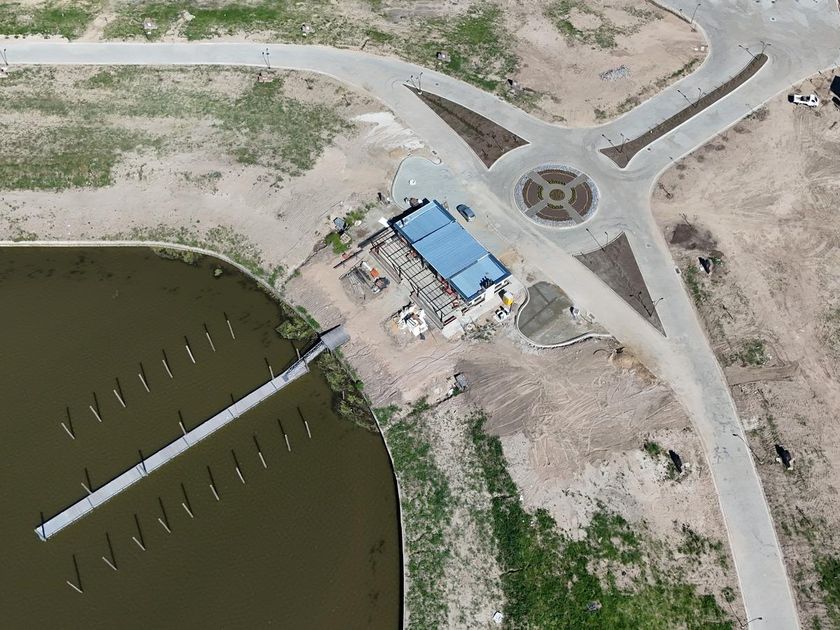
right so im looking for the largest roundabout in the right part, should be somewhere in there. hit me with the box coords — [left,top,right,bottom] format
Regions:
[514,162,600,228]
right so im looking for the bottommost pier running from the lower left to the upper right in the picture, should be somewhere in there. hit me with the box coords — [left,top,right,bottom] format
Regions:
[38,368,308,540]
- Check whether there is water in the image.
Yes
